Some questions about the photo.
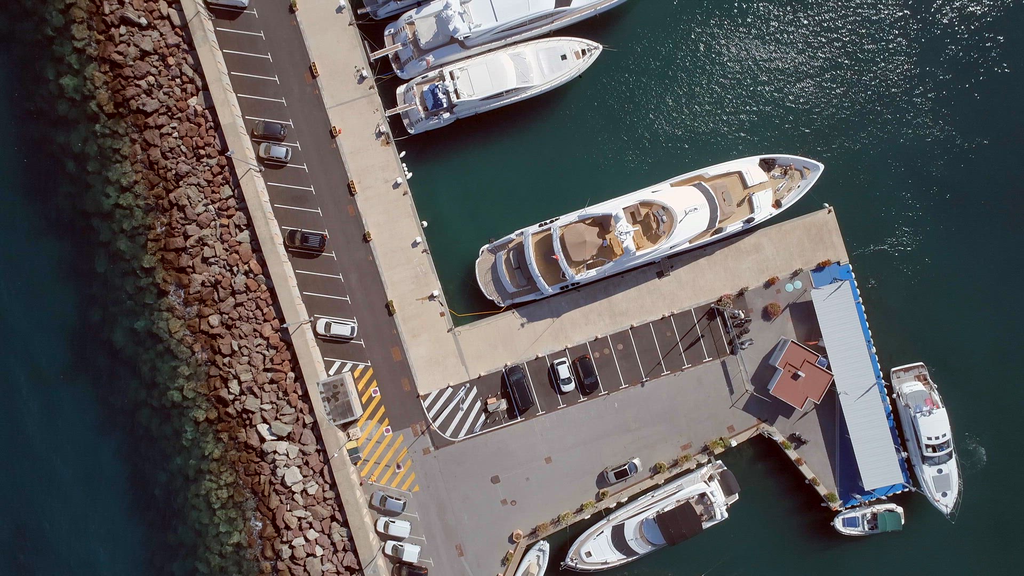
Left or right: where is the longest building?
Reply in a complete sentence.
The longest building is on the right side of the image.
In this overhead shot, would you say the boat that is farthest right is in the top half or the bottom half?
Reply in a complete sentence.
Seen from above, the boat that is farthest right lies in the bottom half of the view.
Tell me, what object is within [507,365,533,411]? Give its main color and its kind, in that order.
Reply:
black vehicle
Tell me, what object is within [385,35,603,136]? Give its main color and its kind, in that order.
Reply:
white boat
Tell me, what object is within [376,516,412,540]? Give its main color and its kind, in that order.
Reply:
white vehicle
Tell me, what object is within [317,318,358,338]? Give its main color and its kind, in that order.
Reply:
white car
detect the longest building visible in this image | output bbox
[805,280,904,491]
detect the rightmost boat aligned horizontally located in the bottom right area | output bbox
[828,501,904,537]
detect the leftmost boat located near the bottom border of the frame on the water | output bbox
[514,538,550,576]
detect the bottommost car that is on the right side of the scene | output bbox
[603,457,642,484]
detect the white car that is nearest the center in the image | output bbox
[553,357,574,393]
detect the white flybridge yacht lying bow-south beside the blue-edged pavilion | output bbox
[882,360,965,522]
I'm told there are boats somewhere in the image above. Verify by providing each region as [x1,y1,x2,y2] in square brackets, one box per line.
[385,35,603,136]
[475,154,824,306]
[560,456,739,569]
[828,501,904,537]
[357,0,437,26]
[882,360,965,522]
[365,0,634,83]
[514,538,550,576]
